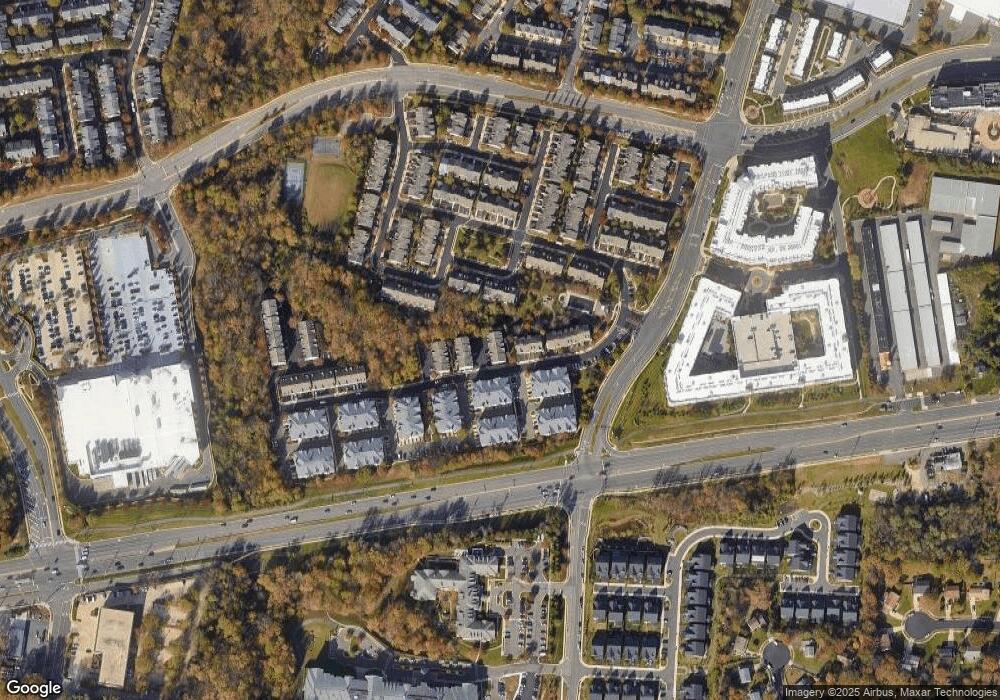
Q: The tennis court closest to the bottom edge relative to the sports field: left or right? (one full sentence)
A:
The tennis court closest to the bottom edge is to the left of the sports field.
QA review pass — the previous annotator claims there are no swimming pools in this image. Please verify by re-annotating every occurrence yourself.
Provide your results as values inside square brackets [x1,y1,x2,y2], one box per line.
[568,295,596,313]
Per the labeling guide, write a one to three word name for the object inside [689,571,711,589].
house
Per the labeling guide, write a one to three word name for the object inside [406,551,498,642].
building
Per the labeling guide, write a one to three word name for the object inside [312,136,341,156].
basketball court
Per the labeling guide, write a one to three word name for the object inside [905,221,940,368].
building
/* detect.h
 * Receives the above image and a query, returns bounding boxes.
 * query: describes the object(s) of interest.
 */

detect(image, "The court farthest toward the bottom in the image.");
[284,159,305,200]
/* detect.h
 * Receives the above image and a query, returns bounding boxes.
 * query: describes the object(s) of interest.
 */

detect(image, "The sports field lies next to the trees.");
[305,162,358,228]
